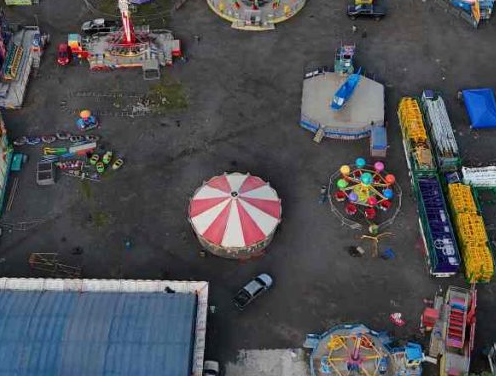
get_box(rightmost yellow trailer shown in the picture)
[442,164,496,284]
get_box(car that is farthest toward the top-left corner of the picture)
[54,40,69,62]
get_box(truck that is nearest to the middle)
[231,271,274,310]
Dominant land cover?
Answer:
paved ground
